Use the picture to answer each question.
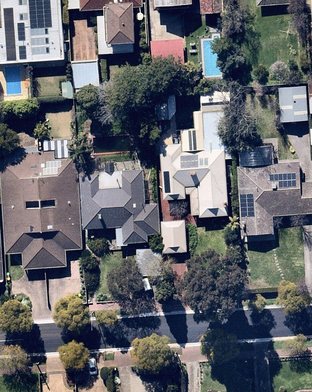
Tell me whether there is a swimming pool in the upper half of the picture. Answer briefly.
Yes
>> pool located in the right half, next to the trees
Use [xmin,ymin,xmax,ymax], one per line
[202,34,224,77]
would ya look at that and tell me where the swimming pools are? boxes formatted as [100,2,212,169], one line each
[92,133,133,155]
[202,34,224,77]
[3,64,23,96]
